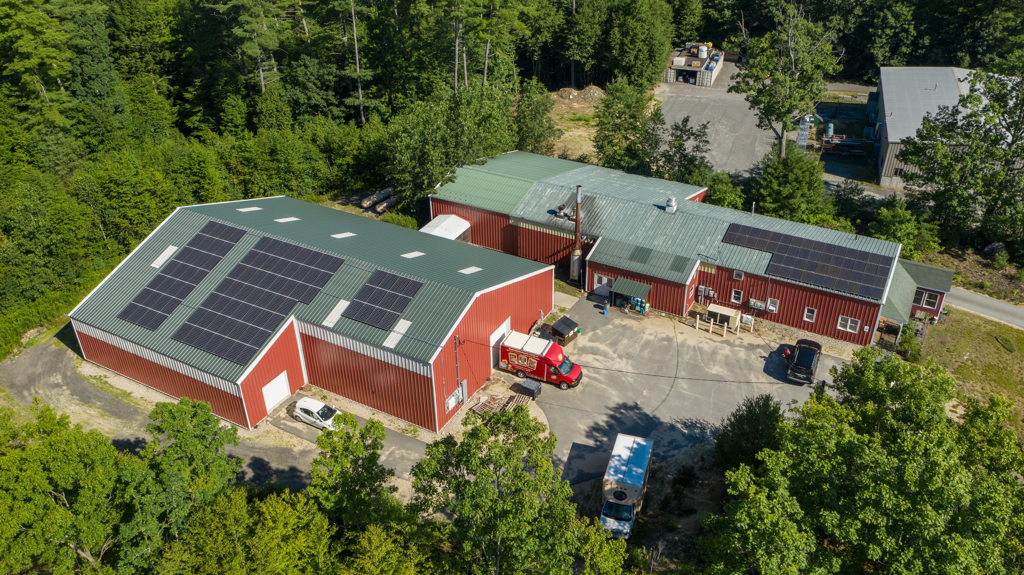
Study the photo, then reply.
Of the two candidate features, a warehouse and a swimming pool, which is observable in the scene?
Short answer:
warehouse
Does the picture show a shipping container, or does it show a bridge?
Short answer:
shipping container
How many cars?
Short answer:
2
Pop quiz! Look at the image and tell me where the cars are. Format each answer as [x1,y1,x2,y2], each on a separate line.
[789,342,822,384]
[292,398,341,428]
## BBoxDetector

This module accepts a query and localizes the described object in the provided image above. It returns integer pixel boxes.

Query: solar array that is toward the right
[723,222,894,299]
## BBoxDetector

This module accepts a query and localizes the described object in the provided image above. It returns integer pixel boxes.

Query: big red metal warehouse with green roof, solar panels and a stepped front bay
[66,195,556,435]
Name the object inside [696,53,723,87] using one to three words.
shipping container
